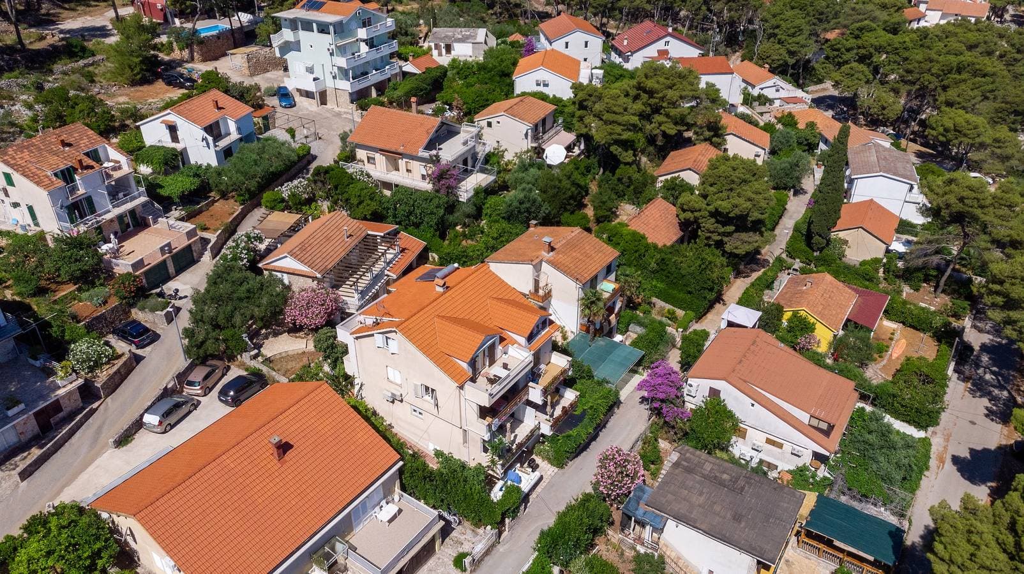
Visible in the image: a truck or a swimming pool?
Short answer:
swimming pool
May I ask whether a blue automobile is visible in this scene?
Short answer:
Yes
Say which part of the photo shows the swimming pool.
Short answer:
top left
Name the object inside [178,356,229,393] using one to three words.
car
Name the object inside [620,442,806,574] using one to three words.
house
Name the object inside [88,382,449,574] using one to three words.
house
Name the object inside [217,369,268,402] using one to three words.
car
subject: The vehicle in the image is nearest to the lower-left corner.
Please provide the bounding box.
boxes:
[139,391,199,429]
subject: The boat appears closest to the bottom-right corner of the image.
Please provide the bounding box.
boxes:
[892,339,908,360]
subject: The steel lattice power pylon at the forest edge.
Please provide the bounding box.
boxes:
[706,5,722,56]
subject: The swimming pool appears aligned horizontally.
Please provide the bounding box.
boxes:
[180,18,255,43]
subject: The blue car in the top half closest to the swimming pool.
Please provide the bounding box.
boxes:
[275,81,293,102]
